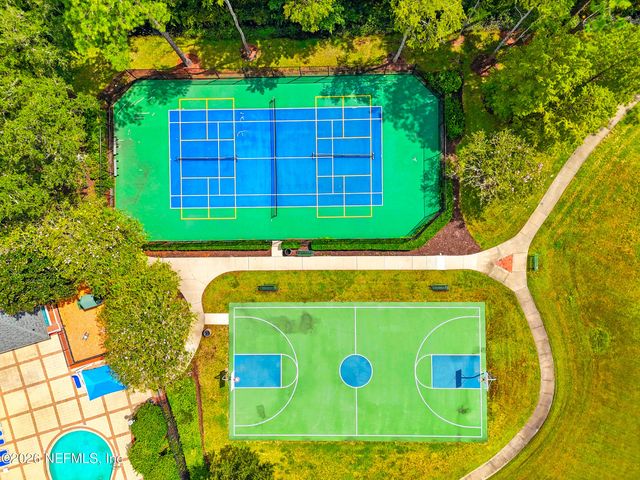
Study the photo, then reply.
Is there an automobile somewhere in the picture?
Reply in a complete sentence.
No, no automobile is visible in the scene.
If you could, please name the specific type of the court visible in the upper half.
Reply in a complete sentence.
From above, the court visible in the upper half can be identified as a tennis court.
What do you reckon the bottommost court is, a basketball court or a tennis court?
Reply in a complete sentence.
Looking closely, the bottommost court is a basketball court.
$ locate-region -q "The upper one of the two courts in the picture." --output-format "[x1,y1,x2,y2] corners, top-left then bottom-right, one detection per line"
[114,76,439,241]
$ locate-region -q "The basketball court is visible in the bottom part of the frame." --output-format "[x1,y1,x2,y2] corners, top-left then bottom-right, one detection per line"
[229,302,487,441]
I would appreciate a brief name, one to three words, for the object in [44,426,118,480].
swimming pool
